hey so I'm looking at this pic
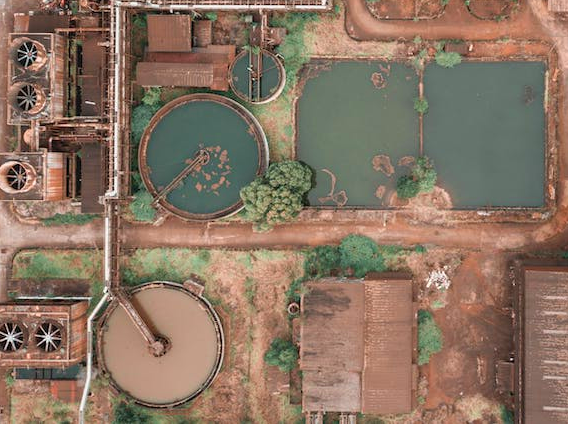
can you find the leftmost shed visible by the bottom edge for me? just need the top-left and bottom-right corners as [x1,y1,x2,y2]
[50,380,84,404]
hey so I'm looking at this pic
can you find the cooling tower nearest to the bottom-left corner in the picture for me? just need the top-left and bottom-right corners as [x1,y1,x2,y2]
[0,298,90,363]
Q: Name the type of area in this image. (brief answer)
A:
industrial area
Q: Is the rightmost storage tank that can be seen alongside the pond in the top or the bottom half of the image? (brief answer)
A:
top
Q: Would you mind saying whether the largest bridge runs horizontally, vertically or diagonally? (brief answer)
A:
diagonally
